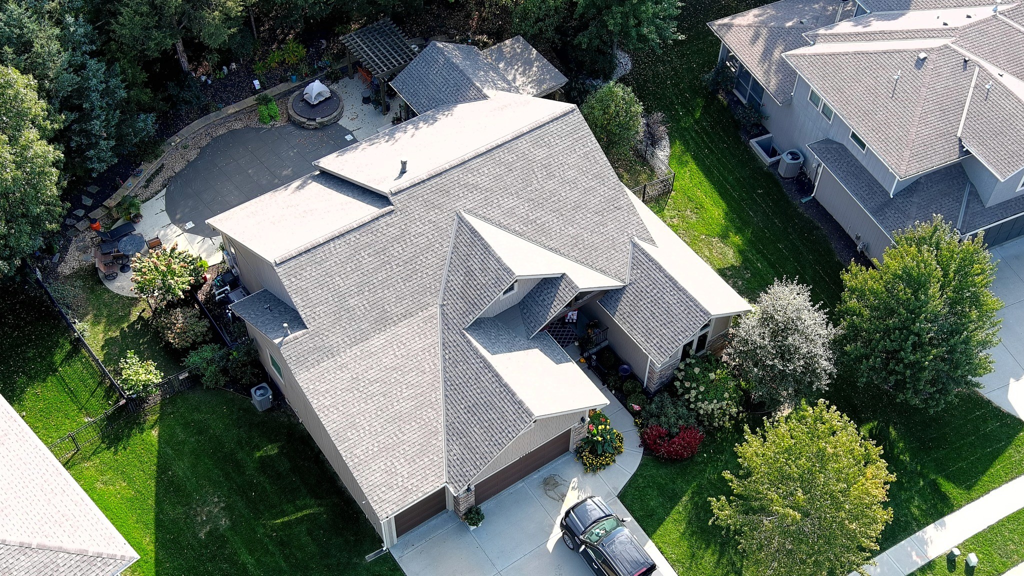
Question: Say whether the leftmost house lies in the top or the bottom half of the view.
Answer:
bottom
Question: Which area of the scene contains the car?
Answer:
bottom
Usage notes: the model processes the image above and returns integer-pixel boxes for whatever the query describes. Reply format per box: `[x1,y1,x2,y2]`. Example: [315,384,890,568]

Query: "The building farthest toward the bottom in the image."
[0,390,143,576]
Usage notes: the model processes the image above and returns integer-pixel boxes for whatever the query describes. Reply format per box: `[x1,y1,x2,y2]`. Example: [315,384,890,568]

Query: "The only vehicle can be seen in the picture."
[563,493,665,576]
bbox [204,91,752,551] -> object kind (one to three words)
house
